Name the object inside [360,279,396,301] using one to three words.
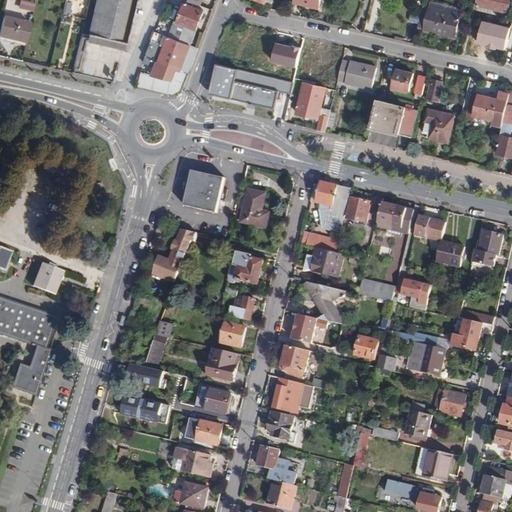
building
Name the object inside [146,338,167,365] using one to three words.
shed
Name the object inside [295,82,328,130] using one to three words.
house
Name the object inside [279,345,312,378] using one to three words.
house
